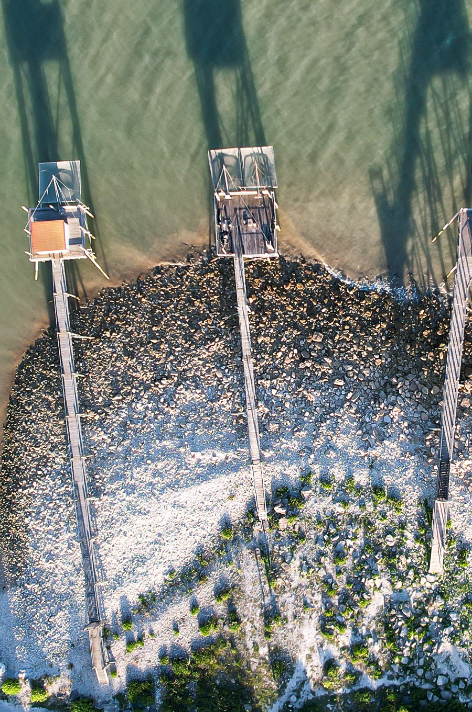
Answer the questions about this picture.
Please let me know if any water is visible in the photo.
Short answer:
Yes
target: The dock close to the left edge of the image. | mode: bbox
[18,202,115,686]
